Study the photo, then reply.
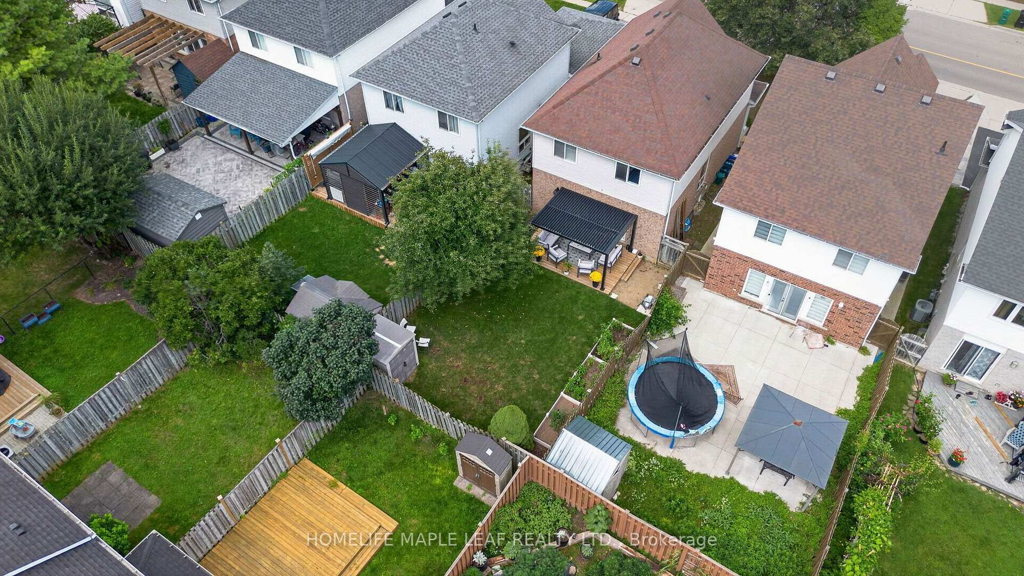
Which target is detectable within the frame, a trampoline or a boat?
trampoline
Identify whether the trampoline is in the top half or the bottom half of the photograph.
bottom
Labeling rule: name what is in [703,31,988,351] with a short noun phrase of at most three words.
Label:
house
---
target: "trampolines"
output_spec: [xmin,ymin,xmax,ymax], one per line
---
[631,329,726,446]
